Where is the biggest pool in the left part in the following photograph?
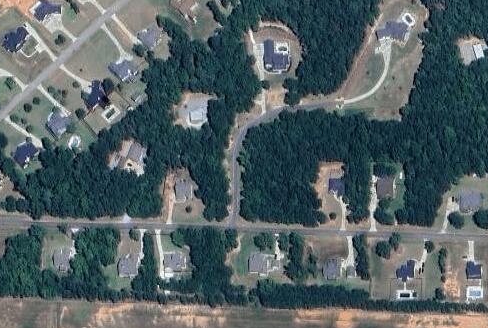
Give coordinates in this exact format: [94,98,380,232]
[103,105,121,122]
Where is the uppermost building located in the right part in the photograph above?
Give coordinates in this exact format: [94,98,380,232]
[377,19,408,42]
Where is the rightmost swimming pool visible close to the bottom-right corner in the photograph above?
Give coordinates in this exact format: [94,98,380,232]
[468,286,482,299]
